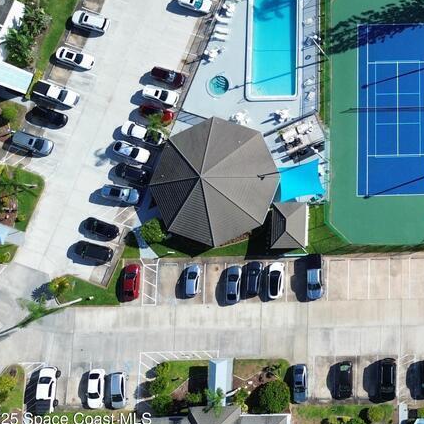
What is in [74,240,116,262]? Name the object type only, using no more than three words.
car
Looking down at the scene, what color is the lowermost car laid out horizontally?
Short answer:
black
